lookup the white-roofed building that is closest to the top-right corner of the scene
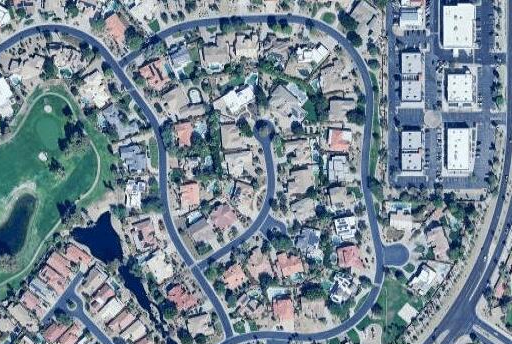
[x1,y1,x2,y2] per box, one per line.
[443,2,477,48]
